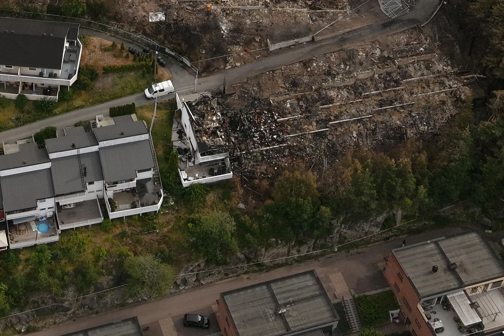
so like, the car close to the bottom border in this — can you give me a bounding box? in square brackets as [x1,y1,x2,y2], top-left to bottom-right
[183,313,211,330]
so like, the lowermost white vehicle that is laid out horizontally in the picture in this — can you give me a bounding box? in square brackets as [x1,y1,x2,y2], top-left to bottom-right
[144,77,176,96]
